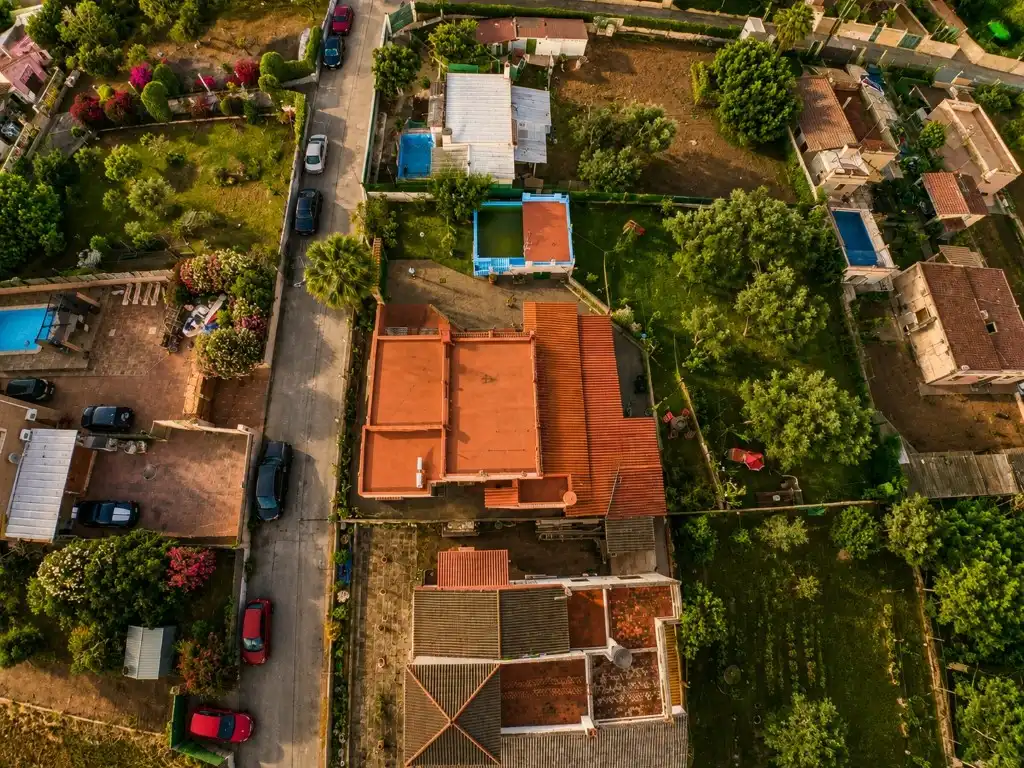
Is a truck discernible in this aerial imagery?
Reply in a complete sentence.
No, no truck is visible in the scene.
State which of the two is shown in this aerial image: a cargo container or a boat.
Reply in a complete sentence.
The one in the frame is a boat.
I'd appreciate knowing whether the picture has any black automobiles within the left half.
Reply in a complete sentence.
Yes, the scene does show a black automobile within the left half.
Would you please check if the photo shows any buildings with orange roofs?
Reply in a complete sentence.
Yes, there is a building with an orange roof in the image.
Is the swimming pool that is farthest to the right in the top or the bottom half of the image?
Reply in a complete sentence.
The swimming pool that is farthest to the right is in the top half of the image.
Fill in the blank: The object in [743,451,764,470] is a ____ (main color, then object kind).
red umbrella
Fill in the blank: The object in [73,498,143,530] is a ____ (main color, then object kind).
black car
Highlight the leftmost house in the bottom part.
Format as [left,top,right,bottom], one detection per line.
[0,394,108,548]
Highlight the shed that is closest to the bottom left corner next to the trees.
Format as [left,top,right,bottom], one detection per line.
[124,624,181,679]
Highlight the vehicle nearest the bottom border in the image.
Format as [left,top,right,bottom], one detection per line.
[187,704,256,746]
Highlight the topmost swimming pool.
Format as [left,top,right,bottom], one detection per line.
[396,132,434,187]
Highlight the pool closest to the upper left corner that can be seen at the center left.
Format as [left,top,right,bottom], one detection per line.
[0,286,111,381]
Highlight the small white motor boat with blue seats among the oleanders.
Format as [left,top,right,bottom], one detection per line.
[183,301,212,334]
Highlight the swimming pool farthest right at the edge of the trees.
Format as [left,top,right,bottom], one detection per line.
[823,205,897,294]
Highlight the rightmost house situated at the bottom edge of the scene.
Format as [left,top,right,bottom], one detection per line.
[404,571,695,768]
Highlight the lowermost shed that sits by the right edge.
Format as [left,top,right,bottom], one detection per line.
[885,448,1024,499]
